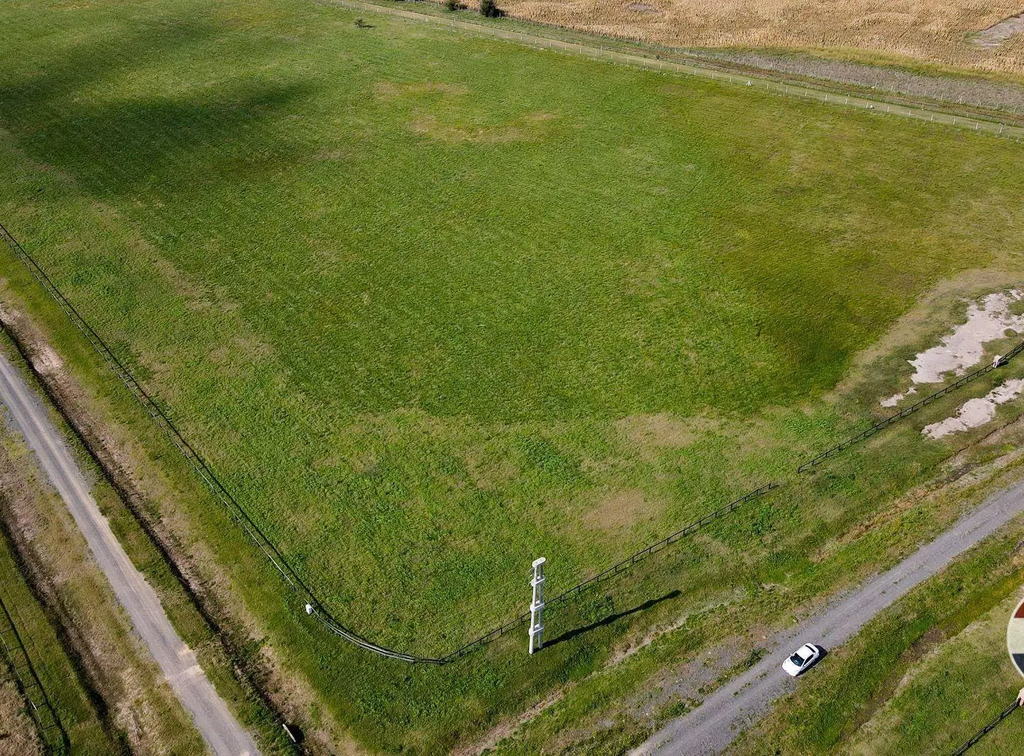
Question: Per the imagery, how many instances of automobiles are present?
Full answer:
I count 1 automobile.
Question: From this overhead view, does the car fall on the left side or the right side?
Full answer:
The car appears in the right half of the scene.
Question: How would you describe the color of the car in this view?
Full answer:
The color of the car is white.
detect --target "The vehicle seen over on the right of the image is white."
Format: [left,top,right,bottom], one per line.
[783,640,825,681]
